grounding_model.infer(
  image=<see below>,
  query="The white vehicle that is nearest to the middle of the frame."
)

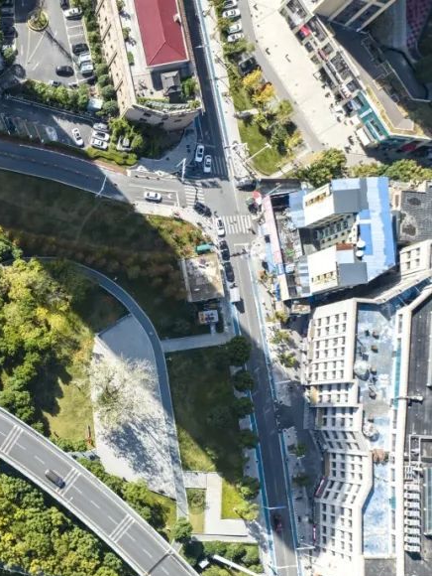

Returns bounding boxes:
[229,283,242,305]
